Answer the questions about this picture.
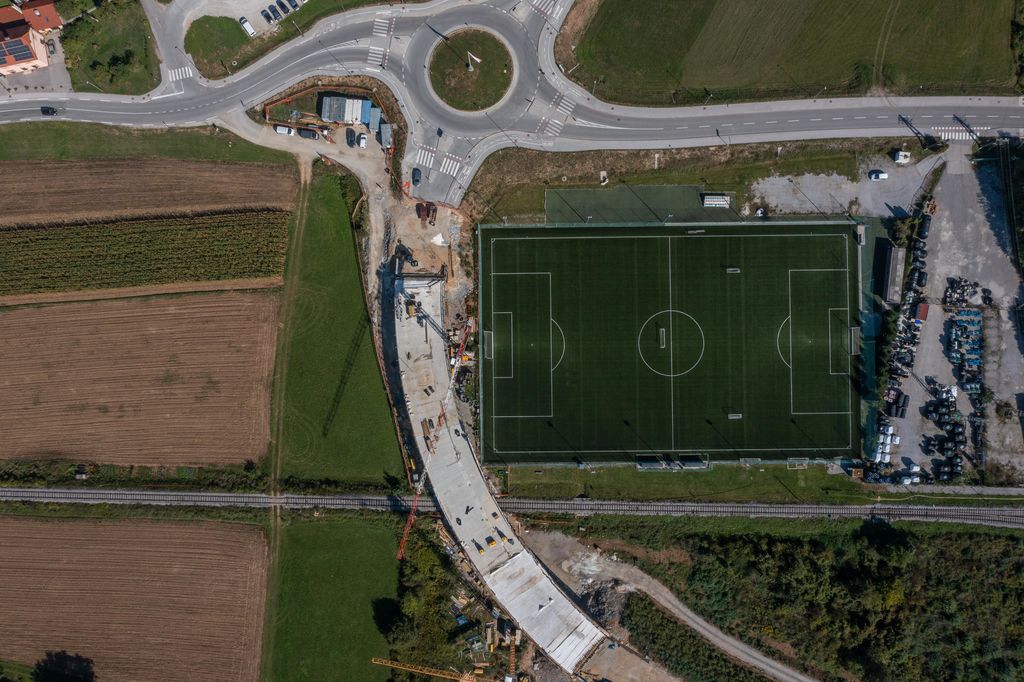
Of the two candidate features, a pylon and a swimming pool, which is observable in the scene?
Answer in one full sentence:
Of the two, only a pylon appears.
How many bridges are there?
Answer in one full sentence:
Altogether the scene contains 1 bridge.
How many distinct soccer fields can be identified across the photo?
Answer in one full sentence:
The count comes to 1 soccer field.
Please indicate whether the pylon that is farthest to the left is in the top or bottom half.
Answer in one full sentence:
The pylon that is farthest to the left sits in the top half of the picture.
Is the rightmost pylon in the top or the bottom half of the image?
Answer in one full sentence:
The rightmost pylon sits in the top half of the picture.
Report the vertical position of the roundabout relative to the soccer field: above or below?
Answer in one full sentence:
In the image, the roundabout sits above the soccer field.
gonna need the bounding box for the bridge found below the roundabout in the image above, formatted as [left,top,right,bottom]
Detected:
[395,270,609,677]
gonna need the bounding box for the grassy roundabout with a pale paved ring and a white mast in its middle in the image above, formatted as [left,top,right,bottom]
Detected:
[403,4,538,137]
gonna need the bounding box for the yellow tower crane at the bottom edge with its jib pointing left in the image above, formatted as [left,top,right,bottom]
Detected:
[372,614,521,682]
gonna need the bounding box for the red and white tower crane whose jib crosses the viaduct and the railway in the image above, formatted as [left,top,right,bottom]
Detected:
[399,319,475,558]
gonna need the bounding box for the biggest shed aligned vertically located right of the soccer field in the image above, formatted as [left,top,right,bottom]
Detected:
[879,248,906,303]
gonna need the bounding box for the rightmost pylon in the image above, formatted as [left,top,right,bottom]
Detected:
[975,133,1009,154]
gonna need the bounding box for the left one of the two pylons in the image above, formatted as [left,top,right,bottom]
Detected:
[920,134,952,155]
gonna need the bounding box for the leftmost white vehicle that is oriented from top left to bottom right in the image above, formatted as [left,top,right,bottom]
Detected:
[239,17,254,35]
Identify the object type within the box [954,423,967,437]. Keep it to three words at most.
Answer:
vehicle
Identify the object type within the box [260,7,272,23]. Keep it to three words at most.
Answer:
vehicle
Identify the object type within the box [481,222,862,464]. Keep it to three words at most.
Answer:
soccer field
